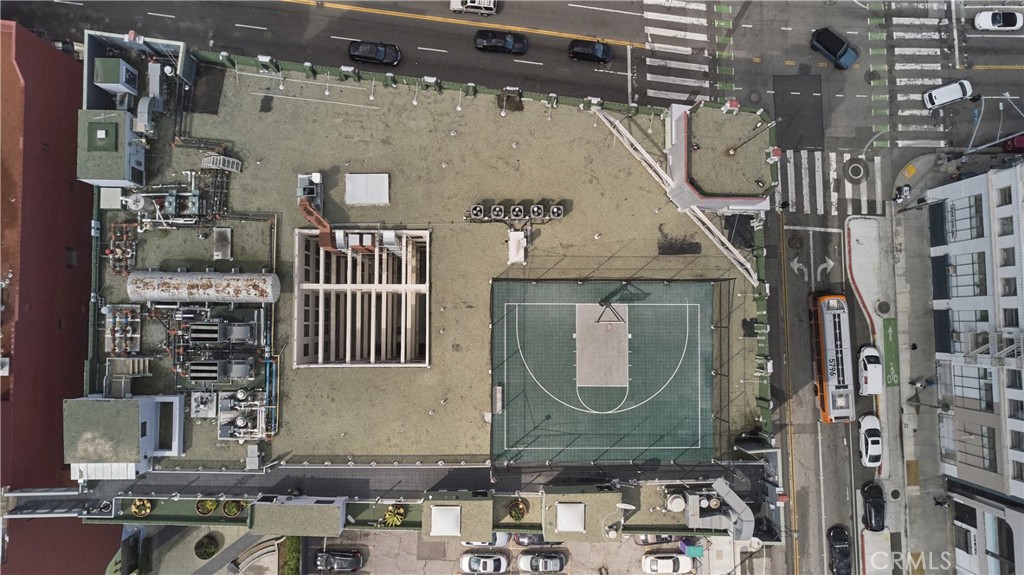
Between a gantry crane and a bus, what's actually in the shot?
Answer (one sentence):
I can see a bus in this picture.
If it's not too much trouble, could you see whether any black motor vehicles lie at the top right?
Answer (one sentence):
Yes, looking at the top right, one can make out a black motor vehicle.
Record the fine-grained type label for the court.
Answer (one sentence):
Specifically, the court is a basketball court.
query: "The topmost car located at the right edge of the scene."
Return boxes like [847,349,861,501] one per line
[972,8,1020,34]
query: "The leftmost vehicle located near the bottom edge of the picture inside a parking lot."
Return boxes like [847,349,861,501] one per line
[316,548,364,574]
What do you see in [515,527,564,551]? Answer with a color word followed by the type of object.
gray car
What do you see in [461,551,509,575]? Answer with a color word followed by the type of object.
white car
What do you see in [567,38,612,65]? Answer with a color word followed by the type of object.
black car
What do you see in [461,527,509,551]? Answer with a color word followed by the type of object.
white car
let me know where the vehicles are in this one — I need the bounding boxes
[811,27,855,69]
[316,548,364,574]
[567,38,612,65]
[823,523,850,575]
[517,550,565,575]
[461,527,509,551]
[348,40,401,69]
[474,30,527,56]
[808,291,856,423]
[853,347,881,395]
[461,551,509,575]
[515,527,564,551]
[641,552,692,575]
[972,8,1020,34]
[1000,132,1024,156]
[921,77,972,113]
[858,480,885,531]
[47,39,84,64]
[450,0,498,19]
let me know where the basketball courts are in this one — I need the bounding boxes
[491,282,713,463]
